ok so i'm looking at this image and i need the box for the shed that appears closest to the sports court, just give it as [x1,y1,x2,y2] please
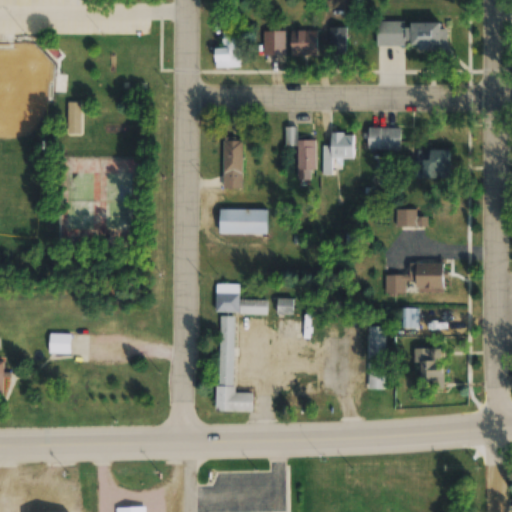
[68,102,84,136]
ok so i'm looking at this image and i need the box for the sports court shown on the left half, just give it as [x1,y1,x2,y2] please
[64,156,138,239]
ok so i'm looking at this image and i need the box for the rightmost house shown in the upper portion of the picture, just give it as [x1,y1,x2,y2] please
[424,150,452,179]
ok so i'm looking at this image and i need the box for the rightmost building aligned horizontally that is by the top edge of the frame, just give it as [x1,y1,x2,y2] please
[378,22,450,50]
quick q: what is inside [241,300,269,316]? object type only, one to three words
shed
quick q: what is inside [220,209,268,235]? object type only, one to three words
building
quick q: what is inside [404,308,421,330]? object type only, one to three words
shed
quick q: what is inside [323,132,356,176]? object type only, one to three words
house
